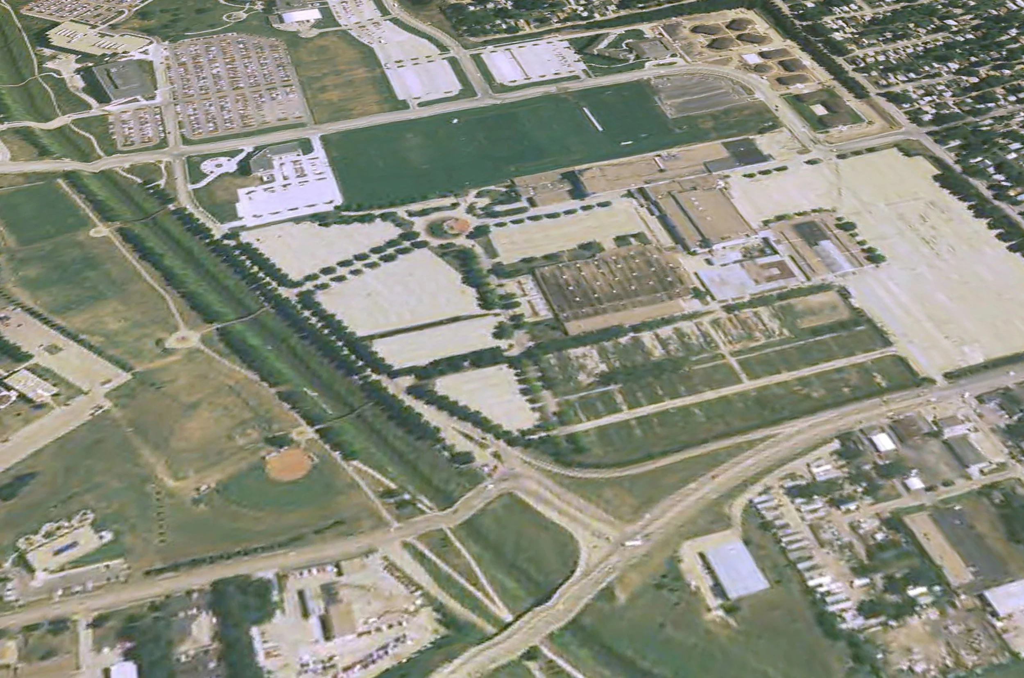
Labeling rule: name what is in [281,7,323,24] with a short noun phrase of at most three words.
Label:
hangar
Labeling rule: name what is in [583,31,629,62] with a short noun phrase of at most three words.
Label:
building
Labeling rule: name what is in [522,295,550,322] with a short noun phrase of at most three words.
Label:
shed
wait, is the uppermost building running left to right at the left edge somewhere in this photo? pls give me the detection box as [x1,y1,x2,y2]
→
[45,19,151,57]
